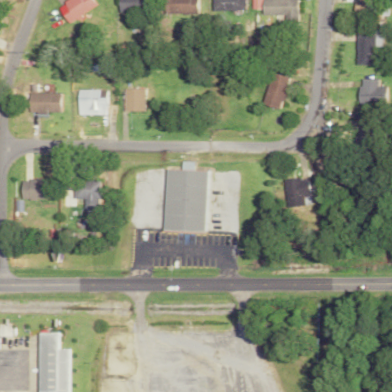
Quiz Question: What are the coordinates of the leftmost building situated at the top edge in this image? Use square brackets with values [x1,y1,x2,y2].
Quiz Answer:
[61,0,100,23]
